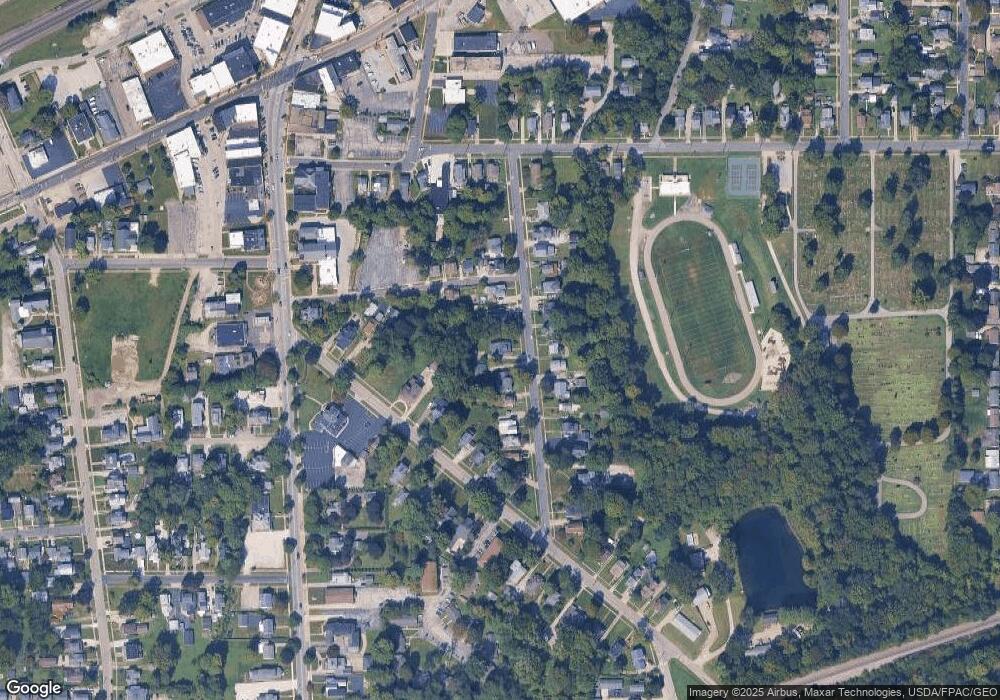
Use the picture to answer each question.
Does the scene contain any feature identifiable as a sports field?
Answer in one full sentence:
Yes, a sports field can be made out from above.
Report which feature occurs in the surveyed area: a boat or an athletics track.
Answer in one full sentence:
Visible in the photo is an athletics track.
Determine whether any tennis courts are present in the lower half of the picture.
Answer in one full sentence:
No, there is no tennis court in the lower half of the picture.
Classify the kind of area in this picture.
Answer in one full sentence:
The area seen from above is a residential area.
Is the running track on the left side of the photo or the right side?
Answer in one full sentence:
The running track appears in the right half of the scene.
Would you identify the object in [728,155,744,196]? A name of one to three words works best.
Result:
tennis court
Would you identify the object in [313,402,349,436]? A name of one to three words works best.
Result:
building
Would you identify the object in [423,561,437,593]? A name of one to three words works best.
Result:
house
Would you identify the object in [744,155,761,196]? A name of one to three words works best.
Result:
tennis court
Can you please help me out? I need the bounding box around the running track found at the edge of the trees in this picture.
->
[645,215,761,405]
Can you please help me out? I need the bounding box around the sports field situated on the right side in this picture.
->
[662,241,751,374]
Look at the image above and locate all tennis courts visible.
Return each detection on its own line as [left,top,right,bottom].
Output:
[728,155,744,196]
[744,155,761,196]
